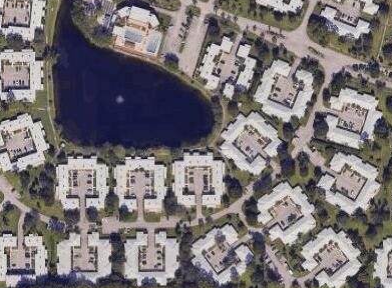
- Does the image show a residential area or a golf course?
residential area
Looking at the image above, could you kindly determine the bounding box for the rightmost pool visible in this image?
[146,30,160,54]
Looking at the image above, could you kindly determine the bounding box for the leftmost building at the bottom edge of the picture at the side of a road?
[0,232,48,287]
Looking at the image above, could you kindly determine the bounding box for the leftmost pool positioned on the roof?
[124,26,145,42]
